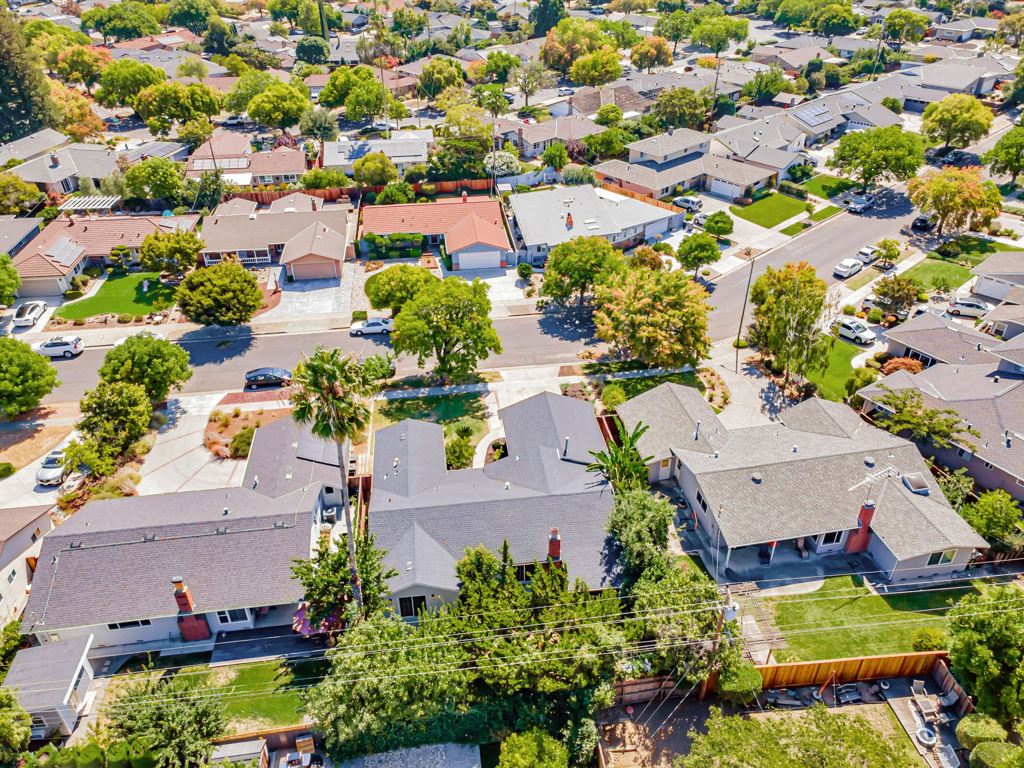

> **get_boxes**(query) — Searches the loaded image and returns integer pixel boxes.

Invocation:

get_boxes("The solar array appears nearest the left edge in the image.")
[47,243,81,267]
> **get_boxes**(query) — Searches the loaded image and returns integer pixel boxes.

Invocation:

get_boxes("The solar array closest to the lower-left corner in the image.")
[299,425,338,465]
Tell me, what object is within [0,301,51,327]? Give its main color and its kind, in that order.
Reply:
white car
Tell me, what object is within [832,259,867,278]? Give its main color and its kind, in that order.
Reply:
white car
